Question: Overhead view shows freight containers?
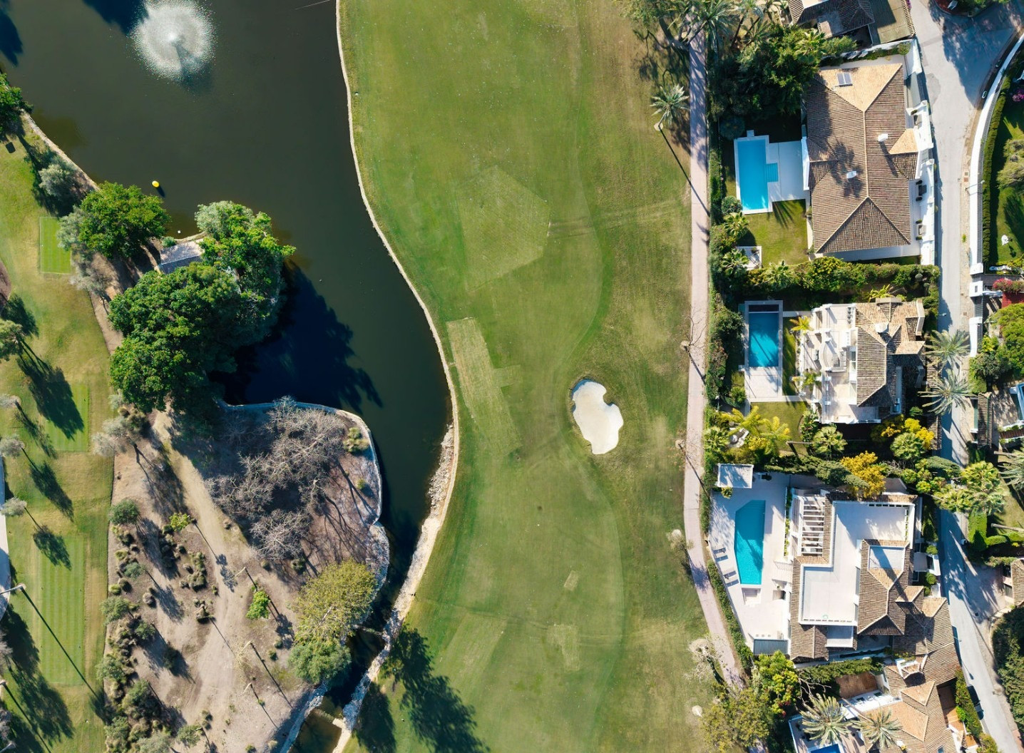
No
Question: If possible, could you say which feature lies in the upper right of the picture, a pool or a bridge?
pool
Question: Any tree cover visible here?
Yes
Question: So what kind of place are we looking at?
golf course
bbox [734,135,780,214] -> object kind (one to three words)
swimming pool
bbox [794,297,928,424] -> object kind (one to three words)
house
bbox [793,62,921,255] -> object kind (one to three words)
house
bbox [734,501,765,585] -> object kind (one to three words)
swimming pool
